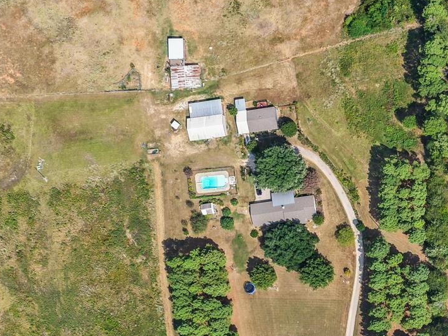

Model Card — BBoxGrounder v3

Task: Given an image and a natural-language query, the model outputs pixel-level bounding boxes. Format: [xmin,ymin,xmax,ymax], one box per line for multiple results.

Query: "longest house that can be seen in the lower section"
[249,189,317,225]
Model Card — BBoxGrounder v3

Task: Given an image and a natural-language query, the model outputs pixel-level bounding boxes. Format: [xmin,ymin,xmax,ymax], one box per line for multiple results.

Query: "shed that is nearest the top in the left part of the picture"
[167,37,188,60]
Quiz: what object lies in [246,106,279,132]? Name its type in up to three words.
building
